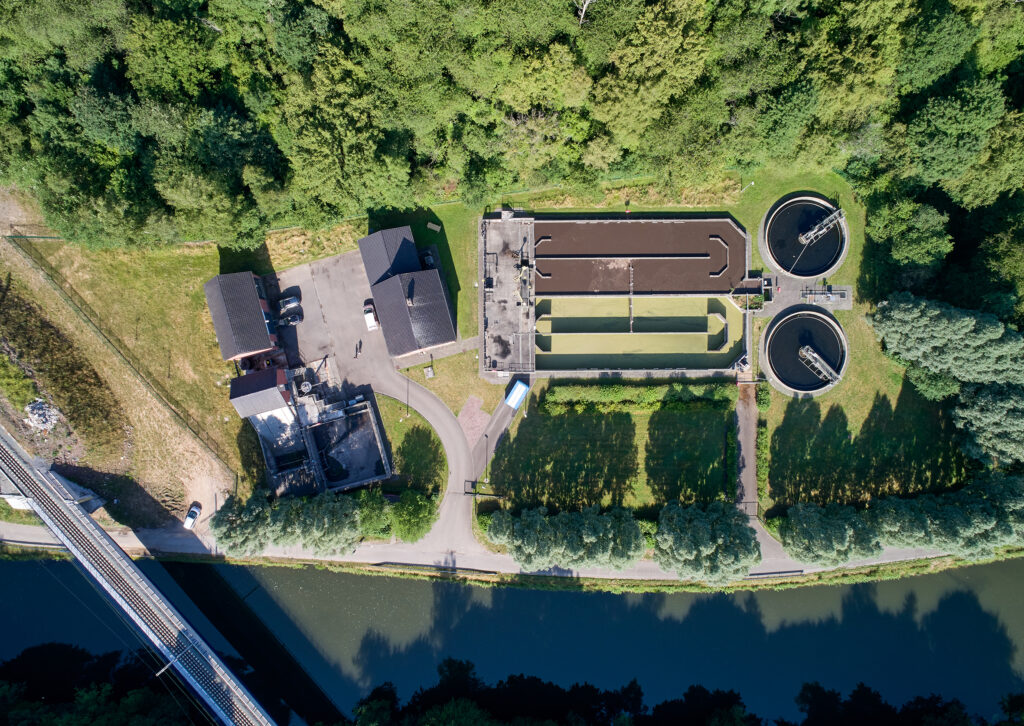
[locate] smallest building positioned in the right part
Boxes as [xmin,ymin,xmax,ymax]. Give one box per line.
[801,286,852,309]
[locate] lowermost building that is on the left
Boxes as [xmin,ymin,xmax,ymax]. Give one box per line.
[228,368,295,419]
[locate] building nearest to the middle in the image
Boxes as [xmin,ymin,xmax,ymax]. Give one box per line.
[357,225,456,358]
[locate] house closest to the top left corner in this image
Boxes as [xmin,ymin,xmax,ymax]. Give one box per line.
[203,272,281,361]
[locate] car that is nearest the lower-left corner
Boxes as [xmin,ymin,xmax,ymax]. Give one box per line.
[182,502,204,530]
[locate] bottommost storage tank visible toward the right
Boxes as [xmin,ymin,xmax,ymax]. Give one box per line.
[760,307,850,397]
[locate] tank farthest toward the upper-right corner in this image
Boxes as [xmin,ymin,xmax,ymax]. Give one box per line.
[759,193,850,284]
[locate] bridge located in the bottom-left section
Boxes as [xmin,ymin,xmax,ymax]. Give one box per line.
[0,435,282,726]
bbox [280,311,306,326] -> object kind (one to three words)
car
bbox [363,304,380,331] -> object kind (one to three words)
vehicle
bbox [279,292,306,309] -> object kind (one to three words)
car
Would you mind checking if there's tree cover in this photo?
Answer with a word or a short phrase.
Yes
